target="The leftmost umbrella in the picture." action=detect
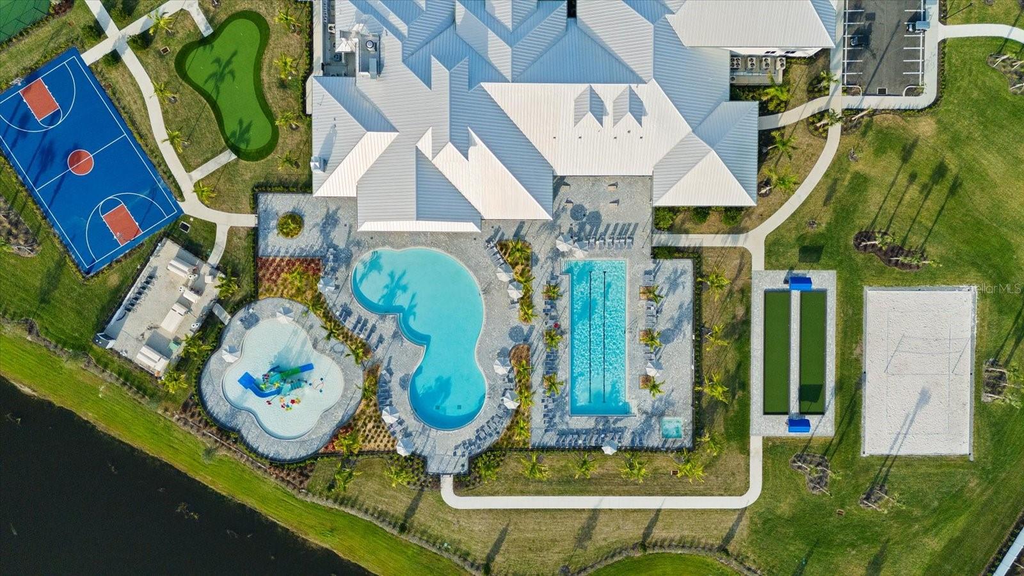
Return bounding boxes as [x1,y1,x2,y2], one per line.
[222,344,241,362]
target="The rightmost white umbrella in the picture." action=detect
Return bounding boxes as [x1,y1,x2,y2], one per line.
[645,359,662,376]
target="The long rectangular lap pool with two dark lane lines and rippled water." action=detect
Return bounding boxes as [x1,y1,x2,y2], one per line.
[560,257,633,417]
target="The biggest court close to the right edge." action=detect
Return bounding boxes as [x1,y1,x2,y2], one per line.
[861,286,978,461]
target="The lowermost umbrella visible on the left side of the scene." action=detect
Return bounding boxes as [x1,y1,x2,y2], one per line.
[396,437,413,455]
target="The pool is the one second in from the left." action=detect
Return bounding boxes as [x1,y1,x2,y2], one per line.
[349,245,488,432]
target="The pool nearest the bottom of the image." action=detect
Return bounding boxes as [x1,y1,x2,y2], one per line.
[661,418,684,444]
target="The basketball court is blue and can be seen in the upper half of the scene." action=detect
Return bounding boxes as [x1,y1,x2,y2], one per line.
[0,49,183,276]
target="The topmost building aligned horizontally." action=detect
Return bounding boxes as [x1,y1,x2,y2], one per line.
[312,0,836,233]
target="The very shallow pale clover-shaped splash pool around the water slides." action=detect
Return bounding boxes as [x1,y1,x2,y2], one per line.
[221,317,345,441]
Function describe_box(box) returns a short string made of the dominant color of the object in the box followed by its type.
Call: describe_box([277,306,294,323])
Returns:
white umbrella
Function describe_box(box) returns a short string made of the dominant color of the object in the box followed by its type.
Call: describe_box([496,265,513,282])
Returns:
white umbrella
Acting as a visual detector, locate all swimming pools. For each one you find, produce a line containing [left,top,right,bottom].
[661,418,684,444]
[560,257,633,417]
[221,317,345,441]
[349,245,488,432]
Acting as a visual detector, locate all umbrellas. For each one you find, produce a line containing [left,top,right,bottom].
[645,359,662,376]
[573,240,591,258]
[319,275,337,293]
[501,391,519,409]
[507,282,524,299]
[493,357,510,374]
[600,439,618,457]
[396,437,413,455]
[222,344,241,362]
[277,306,294,323]
[381,406,399,423]
[555,234,573,251]
[496,265,513,282]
